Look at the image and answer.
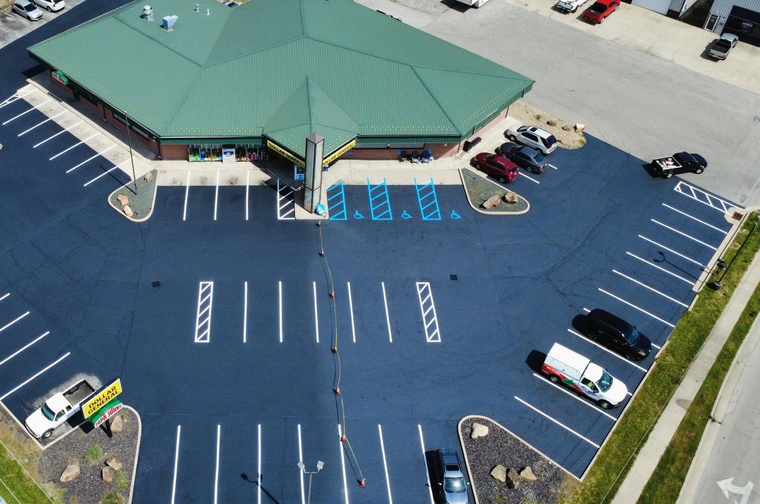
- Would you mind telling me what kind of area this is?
parking lot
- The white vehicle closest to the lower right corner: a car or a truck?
truck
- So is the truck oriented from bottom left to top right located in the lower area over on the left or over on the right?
left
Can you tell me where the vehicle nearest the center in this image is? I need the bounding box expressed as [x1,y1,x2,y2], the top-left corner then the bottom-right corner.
[467,152,524,186]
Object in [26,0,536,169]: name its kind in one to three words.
building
